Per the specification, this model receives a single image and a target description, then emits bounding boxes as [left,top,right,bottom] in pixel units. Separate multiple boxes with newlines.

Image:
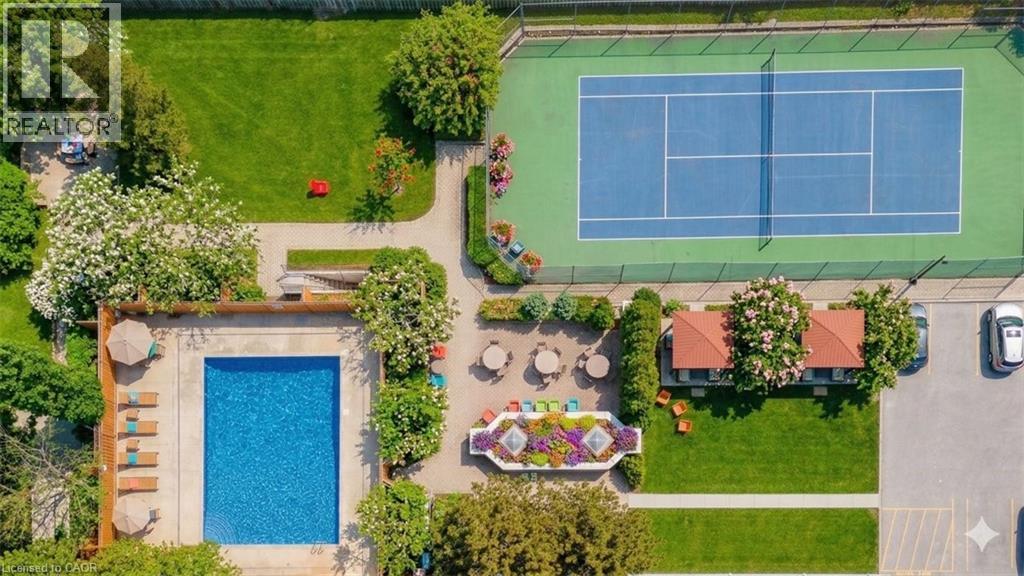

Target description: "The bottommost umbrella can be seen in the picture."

[112,492,151,530]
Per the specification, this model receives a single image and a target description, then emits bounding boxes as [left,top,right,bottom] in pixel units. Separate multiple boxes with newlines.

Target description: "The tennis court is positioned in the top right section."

[489,30,1024,284]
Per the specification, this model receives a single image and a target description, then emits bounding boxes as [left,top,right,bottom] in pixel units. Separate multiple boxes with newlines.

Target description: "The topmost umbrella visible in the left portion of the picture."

[107,318,156,367]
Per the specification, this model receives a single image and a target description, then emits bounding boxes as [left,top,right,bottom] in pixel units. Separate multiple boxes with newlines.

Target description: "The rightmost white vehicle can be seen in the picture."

[989,302,1024,374]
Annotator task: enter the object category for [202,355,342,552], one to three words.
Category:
swimming pool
